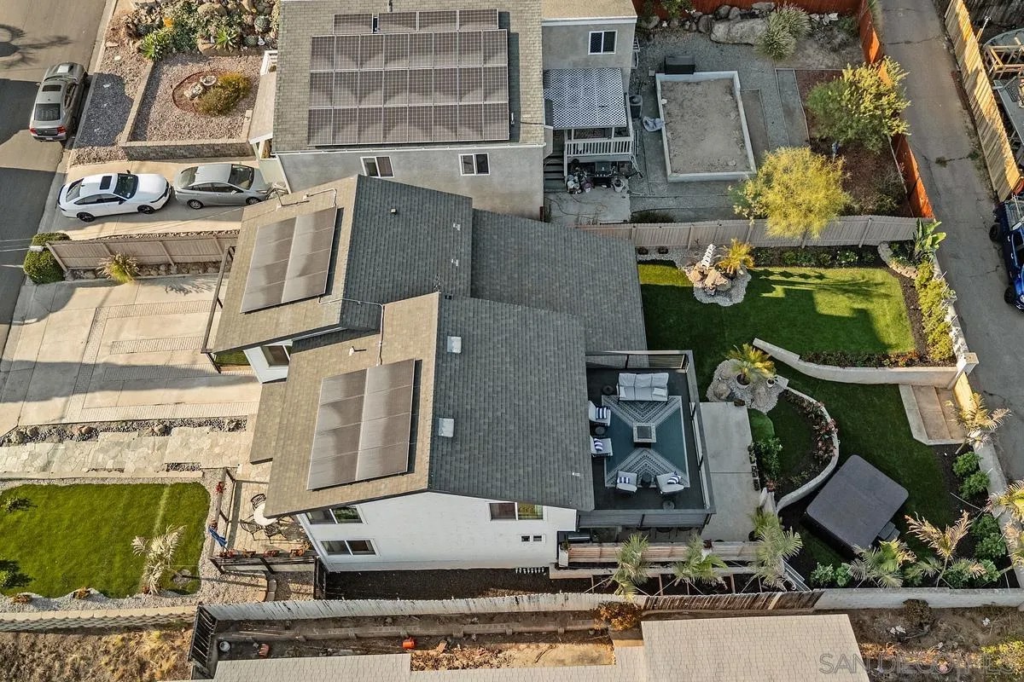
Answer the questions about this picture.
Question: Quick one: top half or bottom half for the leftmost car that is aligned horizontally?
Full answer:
You can find the leftmost car that is aligned horizontally in the top half.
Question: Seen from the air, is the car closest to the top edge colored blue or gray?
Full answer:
The car closest to the top edge looks gray in the image.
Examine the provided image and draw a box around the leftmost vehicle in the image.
[29,72,90,152]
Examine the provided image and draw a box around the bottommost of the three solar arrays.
[309,359,416,489]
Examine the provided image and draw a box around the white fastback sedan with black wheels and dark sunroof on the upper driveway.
[58,169,171,223]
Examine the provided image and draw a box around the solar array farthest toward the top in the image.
[306,12,508,143]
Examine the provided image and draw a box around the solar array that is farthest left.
[249,206,339,311]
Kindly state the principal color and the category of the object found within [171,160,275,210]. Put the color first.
gray car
